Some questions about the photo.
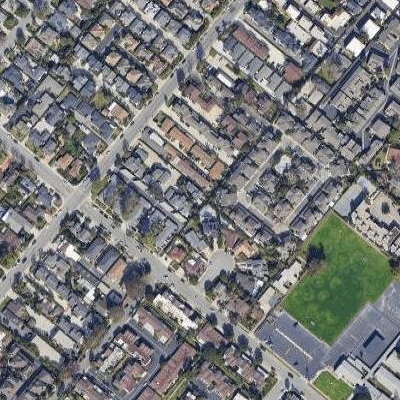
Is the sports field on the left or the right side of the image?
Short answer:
right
